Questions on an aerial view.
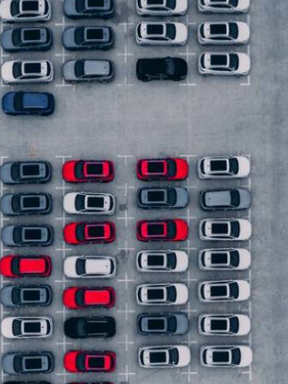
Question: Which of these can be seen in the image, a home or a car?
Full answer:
There is a car in the scene.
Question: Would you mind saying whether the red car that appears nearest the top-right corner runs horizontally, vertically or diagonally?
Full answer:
The red car that appears nearest the top-right corner is laid out horizontally.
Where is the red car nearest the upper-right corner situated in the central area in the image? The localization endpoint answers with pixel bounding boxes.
[136,156,189,181]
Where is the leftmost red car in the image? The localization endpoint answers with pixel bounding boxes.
[0,253,52,280]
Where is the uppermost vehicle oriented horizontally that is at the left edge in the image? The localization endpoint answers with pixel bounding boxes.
[0,0,52,23]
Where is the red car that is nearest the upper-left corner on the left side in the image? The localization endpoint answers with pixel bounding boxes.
[62,158,115,183]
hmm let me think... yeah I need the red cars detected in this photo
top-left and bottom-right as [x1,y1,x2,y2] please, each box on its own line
[136,156,189,181]
[63,220,116,245]
[64,350,117,375]
[62,158,115,183]
[63,286,116,311]
[0,253,52,280]
[136,217,189,242]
